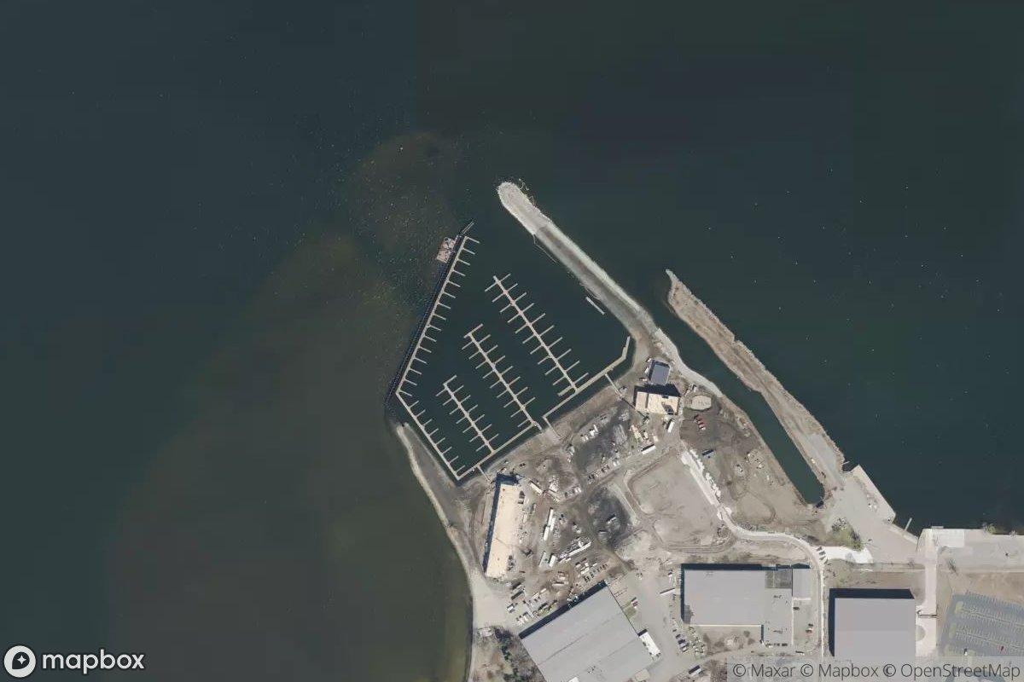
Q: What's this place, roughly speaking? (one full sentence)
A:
This looks like a port.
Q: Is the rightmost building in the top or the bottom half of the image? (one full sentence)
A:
Seen from above, the rightmost building lies in the bottom half of the view.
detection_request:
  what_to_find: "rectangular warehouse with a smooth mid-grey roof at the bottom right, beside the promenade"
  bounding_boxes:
[835,599,916,658]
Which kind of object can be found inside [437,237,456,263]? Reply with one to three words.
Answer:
ship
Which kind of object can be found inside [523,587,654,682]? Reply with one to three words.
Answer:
building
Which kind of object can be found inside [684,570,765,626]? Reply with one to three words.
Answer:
building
